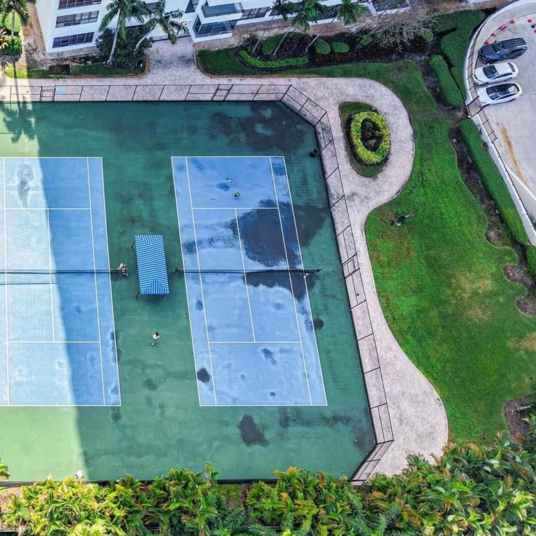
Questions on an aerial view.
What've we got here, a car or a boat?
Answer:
car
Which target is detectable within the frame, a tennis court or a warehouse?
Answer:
tennis court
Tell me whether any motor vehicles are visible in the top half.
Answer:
Yes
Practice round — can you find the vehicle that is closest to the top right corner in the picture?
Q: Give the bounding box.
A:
[479,35,531,67]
